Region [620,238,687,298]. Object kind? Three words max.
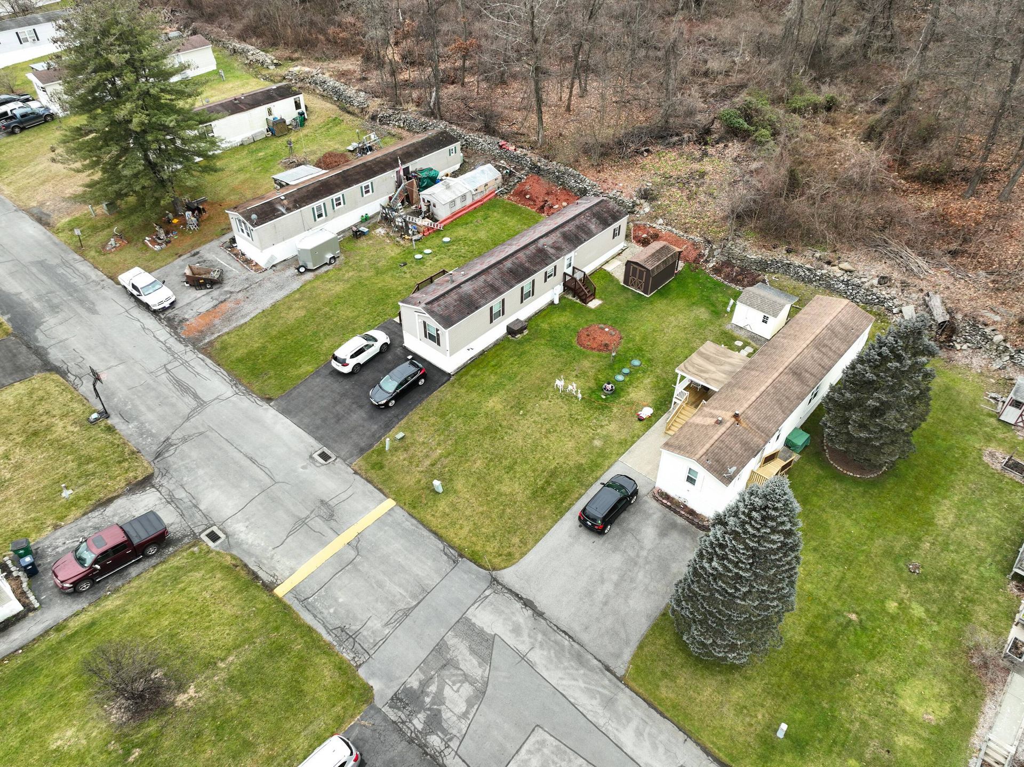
shed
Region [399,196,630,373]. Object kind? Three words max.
house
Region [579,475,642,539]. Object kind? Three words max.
car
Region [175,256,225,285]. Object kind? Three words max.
trailer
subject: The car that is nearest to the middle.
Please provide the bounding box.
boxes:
[371,359,427,408]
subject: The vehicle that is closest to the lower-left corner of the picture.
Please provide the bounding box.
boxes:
[52,511,170,595]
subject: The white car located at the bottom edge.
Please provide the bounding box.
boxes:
[297,736,364,767]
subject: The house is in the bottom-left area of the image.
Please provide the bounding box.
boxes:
[0,572,28,630]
